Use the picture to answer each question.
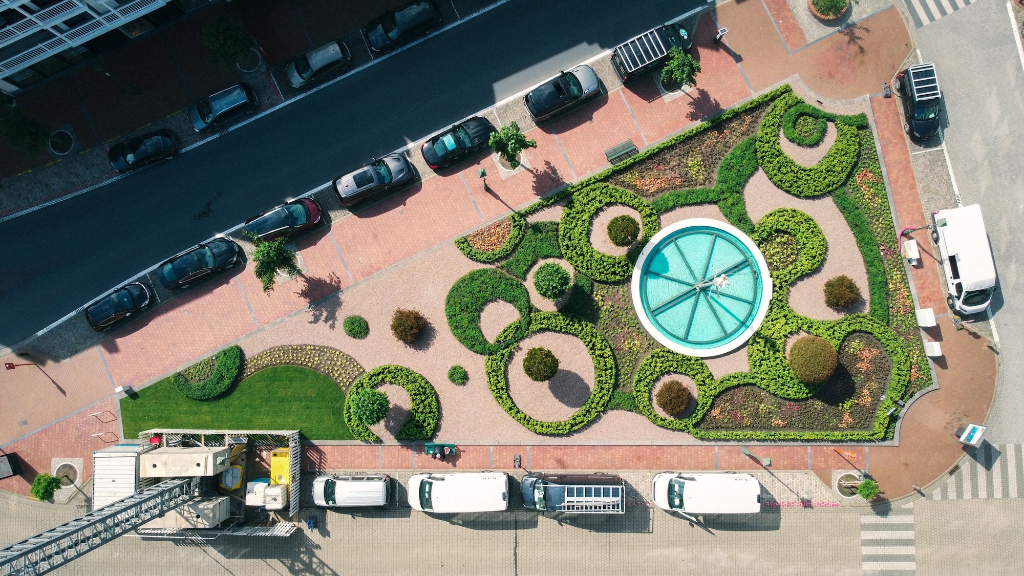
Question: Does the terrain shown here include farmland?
No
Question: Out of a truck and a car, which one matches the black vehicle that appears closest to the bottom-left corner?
car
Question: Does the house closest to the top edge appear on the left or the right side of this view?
left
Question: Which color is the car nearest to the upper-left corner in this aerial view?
black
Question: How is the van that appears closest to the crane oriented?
horizontally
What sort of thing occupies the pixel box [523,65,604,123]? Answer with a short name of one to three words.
car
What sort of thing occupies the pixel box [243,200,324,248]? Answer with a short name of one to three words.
car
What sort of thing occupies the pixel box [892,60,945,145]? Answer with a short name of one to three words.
van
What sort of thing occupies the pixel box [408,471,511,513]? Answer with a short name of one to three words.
van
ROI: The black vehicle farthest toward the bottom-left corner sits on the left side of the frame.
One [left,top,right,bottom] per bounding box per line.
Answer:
[84,282,156,331]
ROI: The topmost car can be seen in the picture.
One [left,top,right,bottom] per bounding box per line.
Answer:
[363,0,444,52]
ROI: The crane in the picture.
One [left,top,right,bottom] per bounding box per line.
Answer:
[0,476,221,576]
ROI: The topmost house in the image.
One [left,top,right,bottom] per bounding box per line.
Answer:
[0,0,197,88]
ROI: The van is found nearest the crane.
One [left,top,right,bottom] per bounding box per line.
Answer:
[313,472,393,510]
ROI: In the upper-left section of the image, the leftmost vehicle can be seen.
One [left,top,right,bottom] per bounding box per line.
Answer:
[109,128,180,173]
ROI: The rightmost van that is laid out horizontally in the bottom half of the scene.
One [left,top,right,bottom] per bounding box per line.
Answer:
[650,472,767,524]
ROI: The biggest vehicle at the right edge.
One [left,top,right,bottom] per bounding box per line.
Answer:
[923,207,990,317]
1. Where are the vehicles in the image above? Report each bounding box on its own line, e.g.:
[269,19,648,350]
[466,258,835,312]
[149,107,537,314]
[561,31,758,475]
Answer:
[408,471,511,513]
[285,37,355,89]
[109,128,180,173]
[610,25,695,86]
[156,238,244,291]
[333,152,414,205]
[523,65,604,123]
[520,472,624,512]
[650,472,767,524]
[187,82,262,134]
[84,282,156,331]
[243,200,324,248]
[363,0,444,52]
[892,60,945,145]
[923,207,990,317]
[313,472,393,510]
[422,117,498,169]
